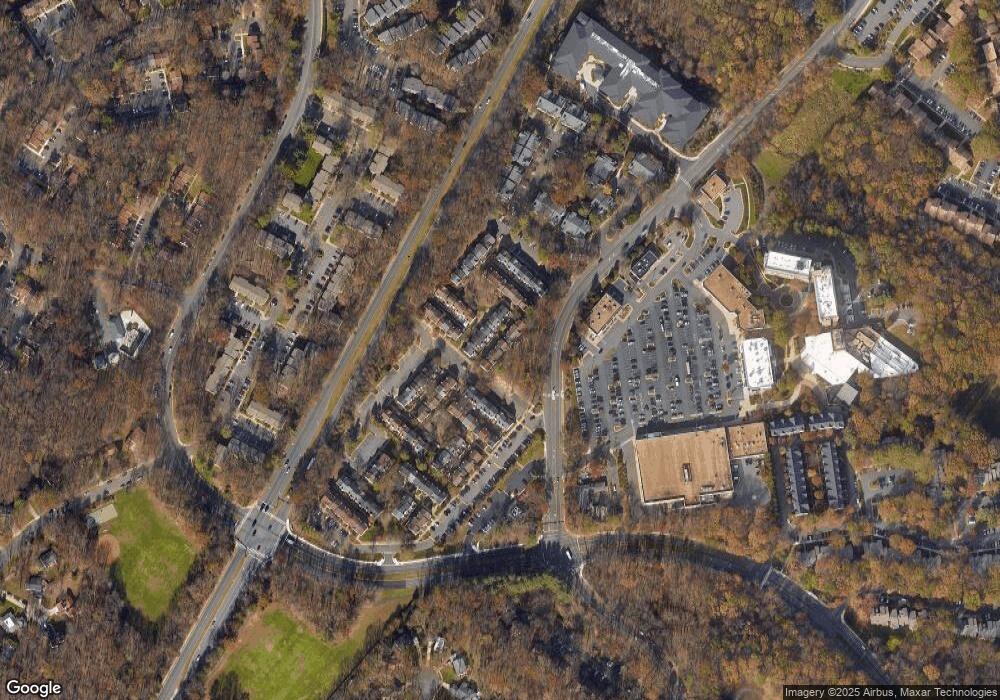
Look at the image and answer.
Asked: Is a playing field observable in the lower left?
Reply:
Yes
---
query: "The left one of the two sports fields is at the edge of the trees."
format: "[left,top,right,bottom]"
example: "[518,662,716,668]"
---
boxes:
[93,485,193,618]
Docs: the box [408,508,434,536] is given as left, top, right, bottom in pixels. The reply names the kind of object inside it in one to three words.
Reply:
house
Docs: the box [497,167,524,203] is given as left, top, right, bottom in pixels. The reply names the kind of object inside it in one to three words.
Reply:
building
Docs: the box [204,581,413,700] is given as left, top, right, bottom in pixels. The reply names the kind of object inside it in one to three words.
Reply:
sports field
